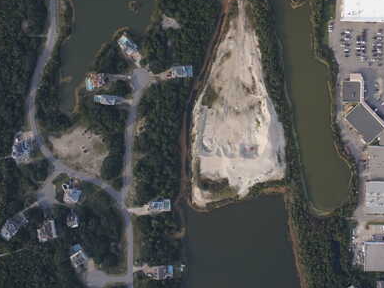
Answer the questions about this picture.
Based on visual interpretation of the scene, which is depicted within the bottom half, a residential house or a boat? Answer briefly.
residential house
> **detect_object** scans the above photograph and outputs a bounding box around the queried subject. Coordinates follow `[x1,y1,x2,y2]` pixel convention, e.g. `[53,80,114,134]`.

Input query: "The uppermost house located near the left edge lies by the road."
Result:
[13,133,37,163]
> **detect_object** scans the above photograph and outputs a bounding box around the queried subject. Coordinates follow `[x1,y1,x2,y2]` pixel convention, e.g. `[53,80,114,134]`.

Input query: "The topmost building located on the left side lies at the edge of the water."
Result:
[117,32,144,64]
